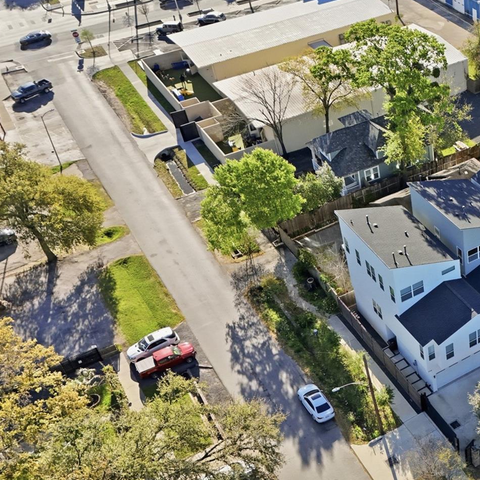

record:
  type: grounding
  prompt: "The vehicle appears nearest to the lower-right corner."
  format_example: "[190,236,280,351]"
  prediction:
[294,380,337,424]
